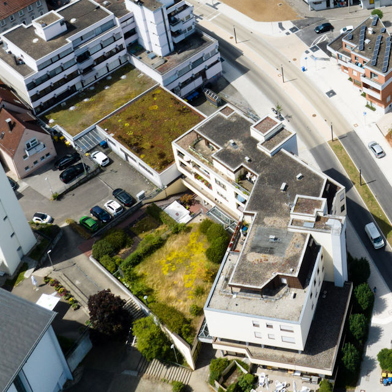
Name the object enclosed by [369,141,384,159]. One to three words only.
car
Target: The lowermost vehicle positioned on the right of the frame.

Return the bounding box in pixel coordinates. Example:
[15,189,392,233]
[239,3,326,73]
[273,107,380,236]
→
[366,220,384,251]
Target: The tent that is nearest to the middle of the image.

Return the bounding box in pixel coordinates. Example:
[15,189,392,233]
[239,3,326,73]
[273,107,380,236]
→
[164,201,193,230]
